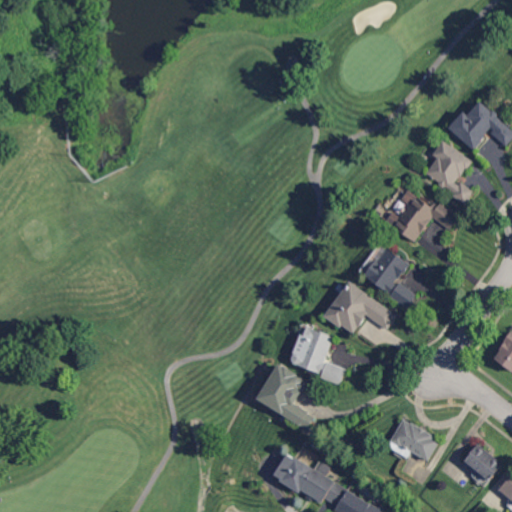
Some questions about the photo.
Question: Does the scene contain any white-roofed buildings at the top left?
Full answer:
No, I can find no white-roofed building at the top left.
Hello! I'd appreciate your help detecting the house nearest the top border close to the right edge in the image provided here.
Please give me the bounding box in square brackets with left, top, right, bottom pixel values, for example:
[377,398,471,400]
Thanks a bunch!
[450,102,512,148]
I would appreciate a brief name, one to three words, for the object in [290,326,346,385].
house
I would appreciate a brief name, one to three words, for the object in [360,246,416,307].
house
